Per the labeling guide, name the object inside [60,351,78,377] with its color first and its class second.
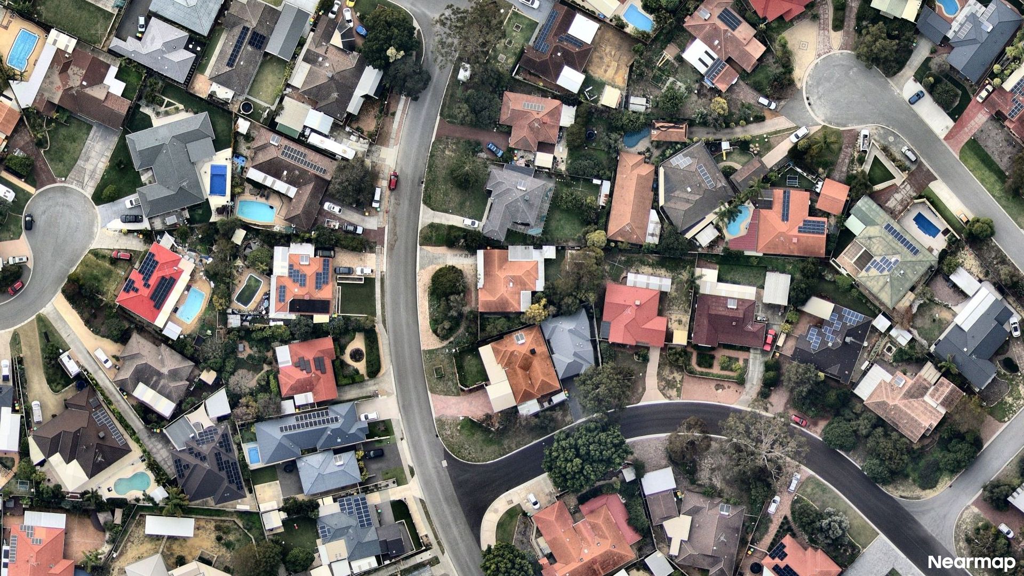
white camper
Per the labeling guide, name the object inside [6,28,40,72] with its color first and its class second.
blue swimming pool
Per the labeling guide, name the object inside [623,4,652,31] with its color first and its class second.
blue swimming pool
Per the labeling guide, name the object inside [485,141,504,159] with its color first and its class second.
blue car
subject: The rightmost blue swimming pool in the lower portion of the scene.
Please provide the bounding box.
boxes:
[247,446,260,464]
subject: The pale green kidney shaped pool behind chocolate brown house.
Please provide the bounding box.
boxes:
[114,471,152,496]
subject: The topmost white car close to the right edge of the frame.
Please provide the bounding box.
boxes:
[976,84,994,103]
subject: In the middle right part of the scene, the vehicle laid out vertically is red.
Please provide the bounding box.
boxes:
[764,328,776,352]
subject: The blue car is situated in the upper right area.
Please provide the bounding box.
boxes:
[908,90,926,105]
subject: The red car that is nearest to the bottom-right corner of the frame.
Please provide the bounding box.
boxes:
[790,413,809,429]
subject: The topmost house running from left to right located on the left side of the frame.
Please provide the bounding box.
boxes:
[147,0,225,35]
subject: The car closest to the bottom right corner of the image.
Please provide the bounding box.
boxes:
[998,522,1015,539]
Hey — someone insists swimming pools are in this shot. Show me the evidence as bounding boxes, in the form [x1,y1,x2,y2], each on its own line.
[247,446,260,464]
[176,287,206,324]
[939,0,960,17]
[623,4,652,31]
[233,274,264,308]
[727,205,752,237]
[913,212,941,238]
[6,28,40,72]
[209,164,227,196]
[237,200,276,223]
[624,130,645,149]
[114,471,152,496]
